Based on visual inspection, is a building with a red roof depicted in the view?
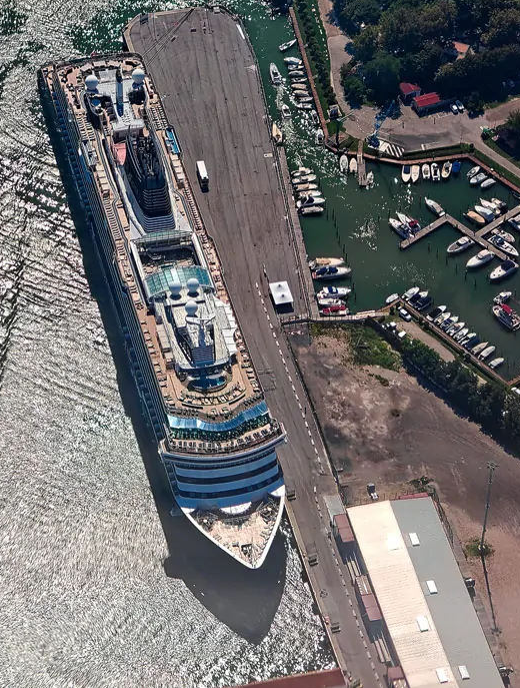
Yes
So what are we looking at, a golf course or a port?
port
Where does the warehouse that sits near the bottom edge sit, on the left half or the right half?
right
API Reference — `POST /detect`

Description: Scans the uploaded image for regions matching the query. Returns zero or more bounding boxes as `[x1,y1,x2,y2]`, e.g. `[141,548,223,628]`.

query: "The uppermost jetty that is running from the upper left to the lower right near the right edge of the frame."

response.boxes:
[445,215,510,262]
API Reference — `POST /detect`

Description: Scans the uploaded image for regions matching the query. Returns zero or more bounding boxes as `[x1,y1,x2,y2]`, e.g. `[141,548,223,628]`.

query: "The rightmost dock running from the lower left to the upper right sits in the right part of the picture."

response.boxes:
[474,203,520,237]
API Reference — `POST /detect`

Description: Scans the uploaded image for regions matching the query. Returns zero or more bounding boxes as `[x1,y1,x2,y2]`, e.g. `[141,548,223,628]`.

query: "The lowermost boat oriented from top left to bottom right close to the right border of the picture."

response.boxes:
[494,304,520,333]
